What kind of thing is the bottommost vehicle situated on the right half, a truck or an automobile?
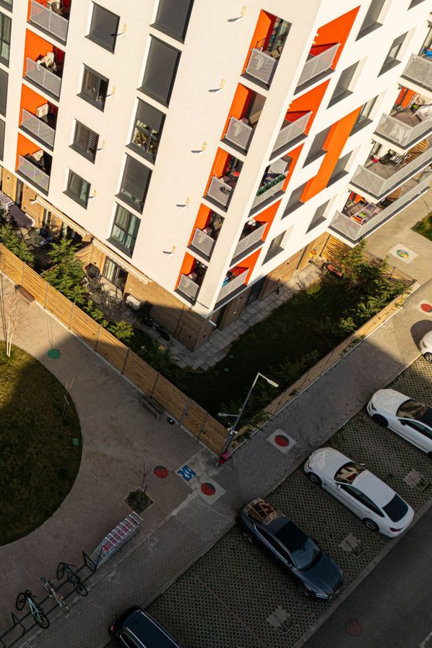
automobile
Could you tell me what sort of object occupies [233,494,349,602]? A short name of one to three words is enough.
car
